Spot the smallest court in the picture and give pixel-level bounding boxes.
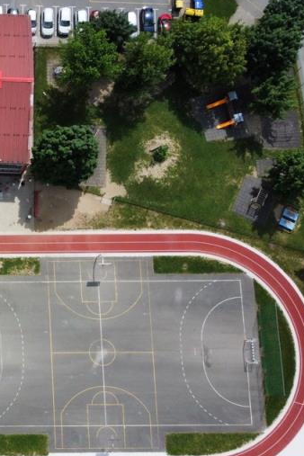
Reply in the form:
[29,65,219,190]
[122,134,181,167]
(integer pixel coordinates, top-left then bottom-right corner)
[39,255,167,453]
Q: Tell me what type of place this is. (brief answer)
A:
sports ground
